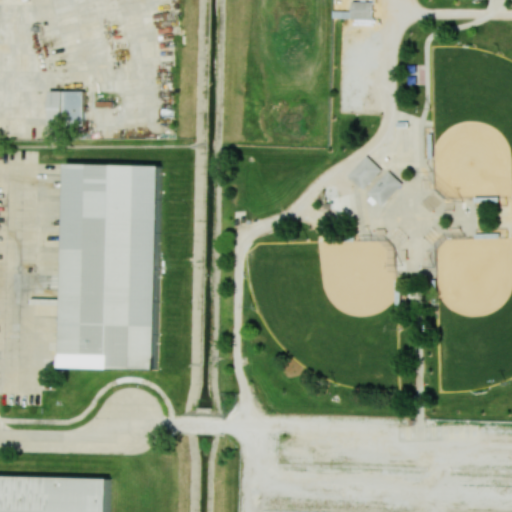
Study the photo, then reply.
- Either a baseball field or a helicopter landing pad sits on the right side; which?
baseball field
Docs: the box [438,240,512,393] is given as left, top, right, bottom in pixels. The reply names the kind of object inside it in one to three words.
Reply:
baseball field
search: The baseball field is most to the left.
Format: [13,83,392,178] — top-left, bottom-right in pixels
[246,240,402,392]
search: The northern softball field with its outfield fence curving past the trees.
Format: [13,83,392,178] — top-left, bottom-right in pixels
[432,45,512,198]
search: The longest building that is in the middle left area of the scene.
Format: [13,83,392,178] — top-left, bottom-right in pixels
[57,165,162,370]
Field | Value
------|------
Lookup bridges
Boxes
[184,408,226,434]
